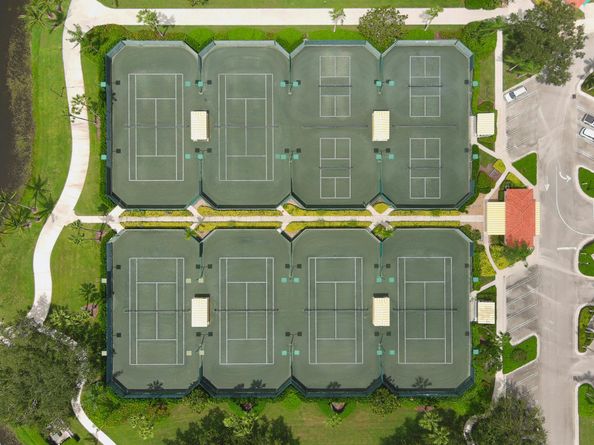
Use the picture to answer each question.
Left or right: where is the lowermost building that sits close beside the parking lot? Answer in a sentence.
The lowermost building that sits close beside the parking lot is on the right side of the image.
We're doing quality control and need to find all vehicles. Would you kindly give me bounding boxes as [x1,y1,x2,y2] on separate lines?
[501,85,528,103]
[578,128,594,146]
[580,112,594,128]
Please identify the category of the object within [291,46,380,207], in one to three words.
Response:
sports court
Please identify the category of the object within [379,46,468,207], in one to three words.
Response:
sports court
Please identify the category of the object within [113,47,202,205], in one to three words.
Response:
tennis court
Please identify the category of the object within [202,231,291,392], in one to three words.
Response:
tennis court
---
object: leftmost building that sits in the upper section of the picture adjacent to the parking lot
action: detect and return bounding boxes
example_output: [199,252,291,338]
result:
[474,113,494,138]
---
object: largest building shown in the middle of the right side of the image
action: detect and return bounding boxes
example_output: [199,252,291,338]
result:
[483,188,540,249]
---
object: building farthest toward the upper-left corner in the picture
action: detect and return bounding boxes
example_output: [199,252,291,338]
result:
[191,111,208,141]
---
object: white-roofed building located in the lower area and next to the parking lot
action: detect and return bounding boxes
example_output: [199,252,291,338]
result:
[475,301,494,324]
